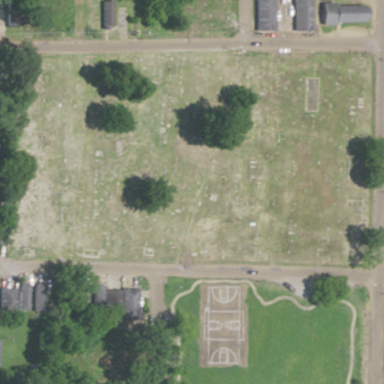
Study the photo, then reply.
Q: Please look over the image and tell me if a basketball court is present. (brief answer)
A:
Yes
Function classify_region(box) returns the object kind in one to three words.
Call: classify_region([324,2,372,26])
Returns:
building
